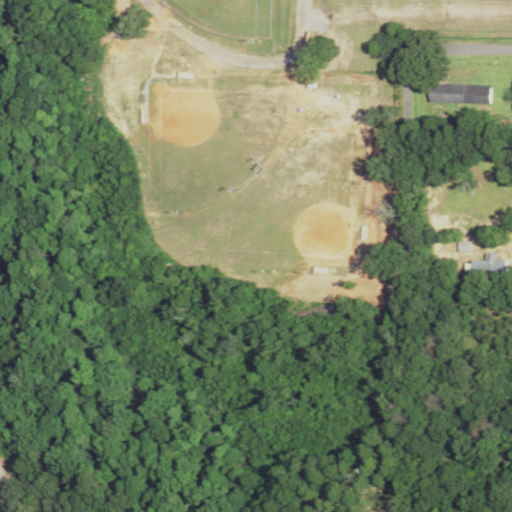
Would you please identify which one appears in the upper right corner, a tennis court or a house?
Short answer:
house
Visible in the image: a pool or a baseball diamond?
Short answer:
baseball diamond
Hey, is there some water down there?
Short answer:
No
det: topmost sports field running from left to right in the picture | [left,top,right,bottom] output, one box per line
[162,0,271,40]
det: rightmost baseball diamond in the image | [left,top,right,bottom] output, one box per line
[226,131,354,265]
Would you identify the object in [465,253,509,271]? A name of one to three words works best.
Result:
house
